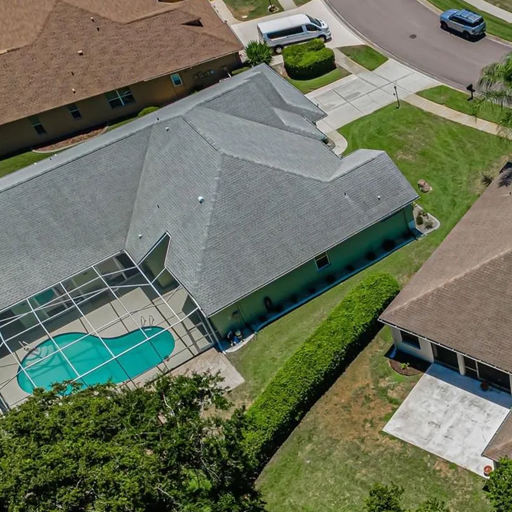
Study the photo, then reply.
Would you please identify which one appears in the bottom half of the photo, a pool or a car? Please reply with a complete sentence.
Visible in the bottom half of the photo is a pool.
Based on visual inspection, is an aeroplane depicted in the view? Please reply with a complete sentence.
No, no aeroplane can be seen from above.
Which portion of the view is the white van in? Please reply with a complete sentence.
The white van appears toward the top of the photo.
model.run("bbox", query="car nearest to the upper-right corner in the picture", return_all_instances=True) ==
[435,7,486,39]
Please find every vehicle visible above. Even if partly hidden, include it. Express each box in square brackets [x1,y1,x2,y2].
[435,7,486,39]
[255,10,333,53]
